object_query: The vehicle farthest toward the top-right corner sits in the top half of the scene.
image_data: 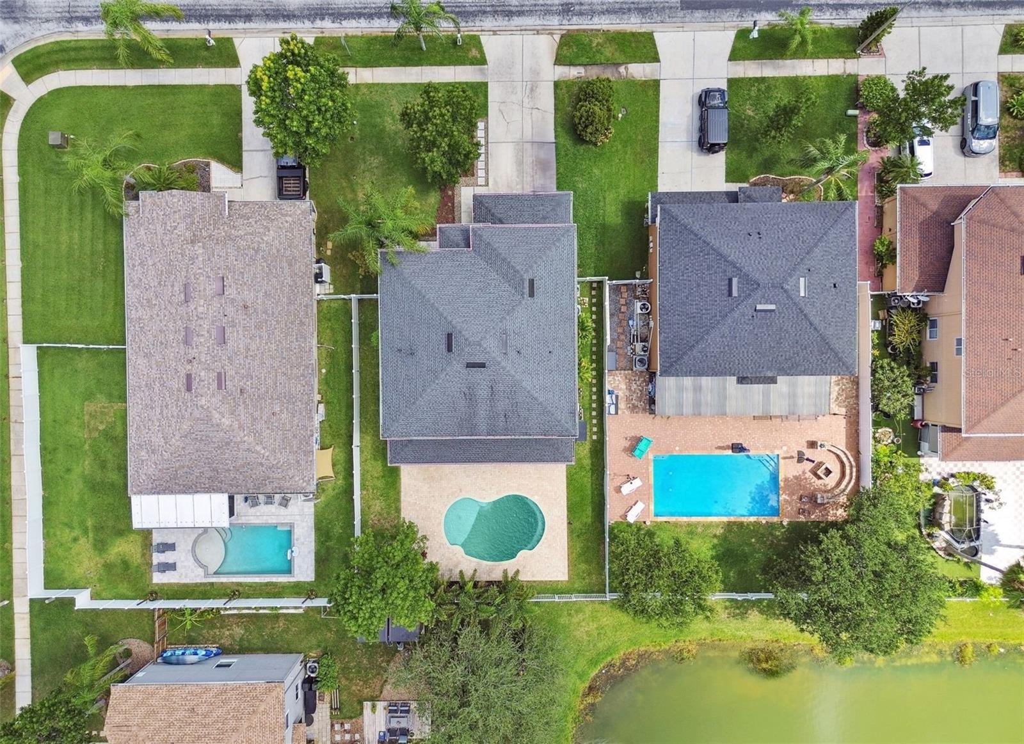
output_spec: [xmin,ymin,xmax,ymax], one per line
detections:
[967,83,1006,156]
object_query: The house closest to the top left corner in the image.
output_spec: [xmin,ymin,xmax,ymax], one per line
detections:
[122,187,322,499]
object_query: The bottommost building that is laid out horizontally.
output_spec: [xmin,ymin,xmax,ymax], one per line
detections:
[108,656,313,744]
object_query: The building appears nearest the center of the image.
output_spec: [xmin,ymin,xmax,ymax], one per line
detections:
[377,190,579,466]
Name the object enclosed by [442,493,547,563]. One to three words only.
swimming pool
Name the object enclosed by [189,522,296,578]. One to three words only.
swimming pool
